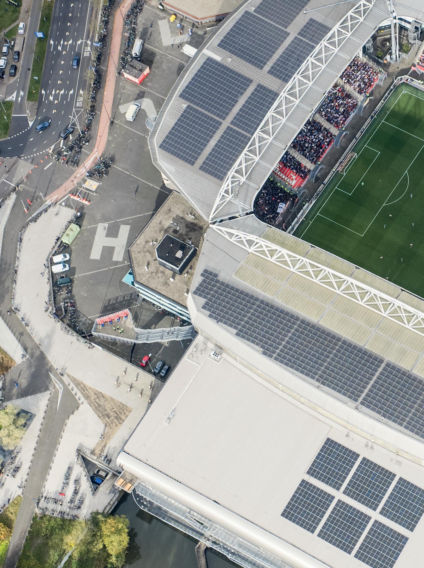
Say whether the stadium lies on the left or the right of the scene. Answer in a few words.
right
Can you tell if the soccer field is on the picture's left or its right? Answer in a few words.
right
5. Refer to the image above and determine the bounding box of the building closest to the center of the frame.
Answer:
[121,191,210,324]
